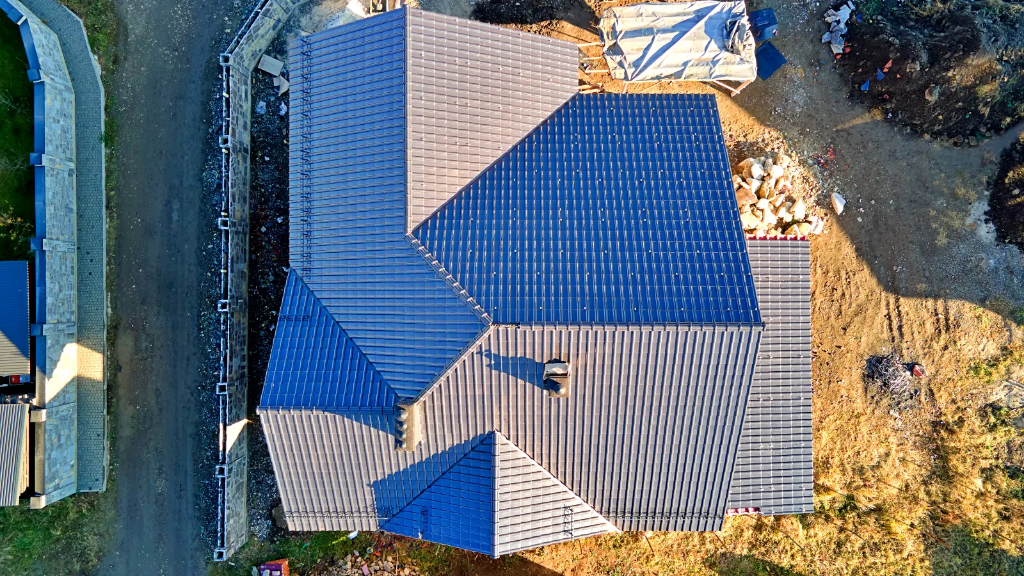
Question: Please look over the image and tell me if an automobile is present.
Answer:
No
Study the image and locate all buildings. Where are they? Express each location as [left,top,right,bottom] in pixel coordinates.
[253,3,814,561]
[0,404,37,506]
[0,261,37,377]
